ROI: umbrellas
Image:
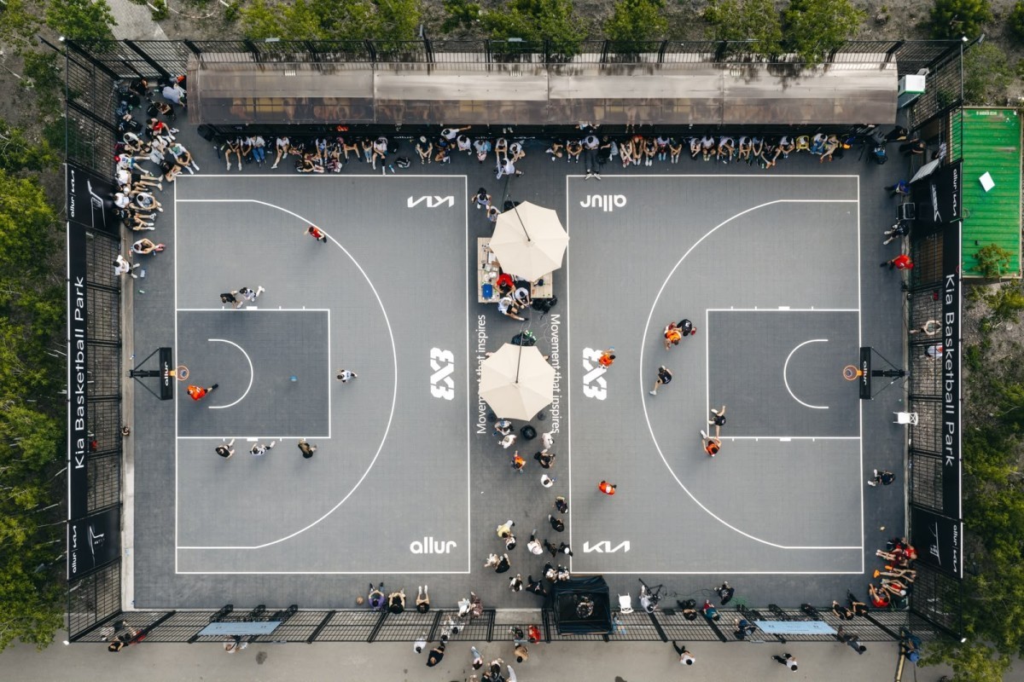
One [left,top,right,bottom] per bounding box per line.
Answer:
[490,201,569,282]
[480,327,555,421]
